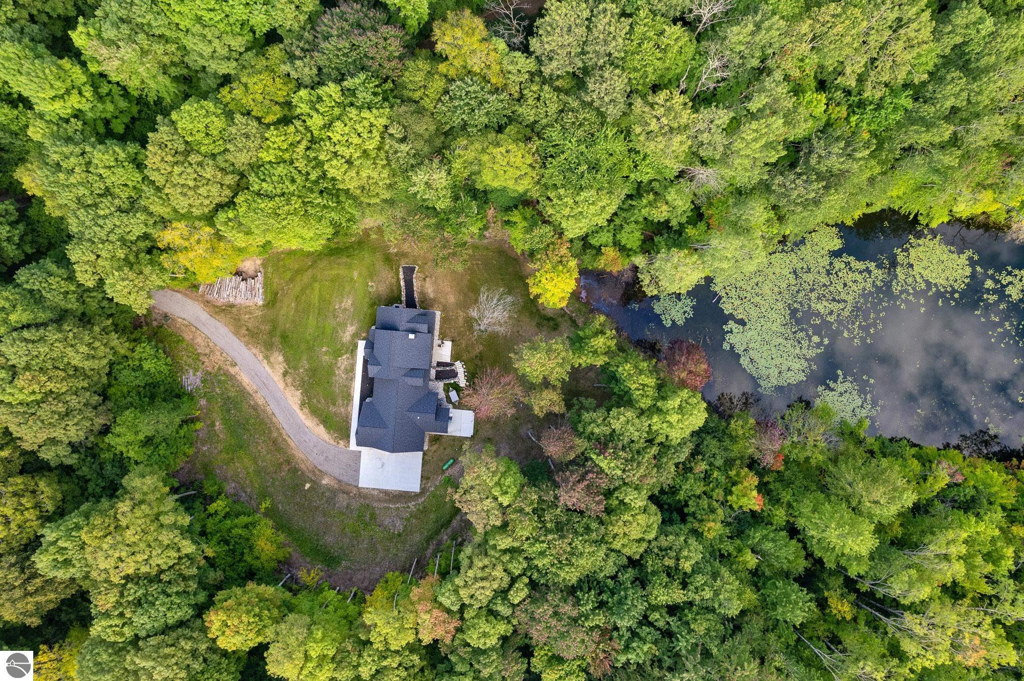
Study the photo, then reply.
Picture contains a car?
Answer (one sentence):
No, this view has no car in it.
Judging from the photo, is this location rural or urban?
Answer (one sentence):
The area is rural.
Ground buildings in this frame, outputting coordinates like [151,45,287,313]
[355,307,450,453]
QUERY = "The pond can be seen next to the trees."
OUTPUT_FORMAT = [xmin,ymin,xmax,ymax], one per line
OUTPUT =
[580,205,1024,457]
